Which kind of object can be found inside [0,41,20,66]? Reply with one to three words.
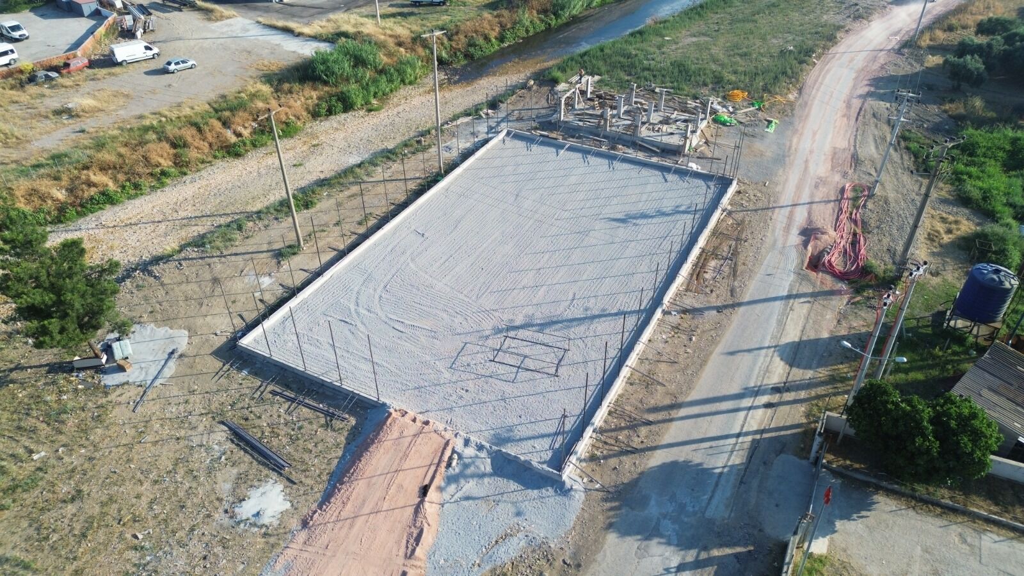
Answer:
vehicle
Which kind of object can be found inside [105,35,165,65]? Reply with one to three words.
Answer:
van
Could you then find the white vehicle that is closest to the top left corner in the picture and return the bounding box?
[0,12,34,40]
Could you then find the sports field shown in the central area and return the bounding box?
[244,133,733,470]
